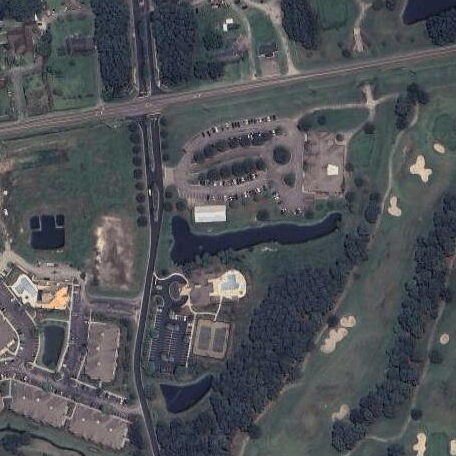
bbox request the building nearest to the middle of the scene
[194,205,226,222]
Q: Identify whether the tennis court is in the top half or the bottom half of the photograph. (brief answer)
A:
bottom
